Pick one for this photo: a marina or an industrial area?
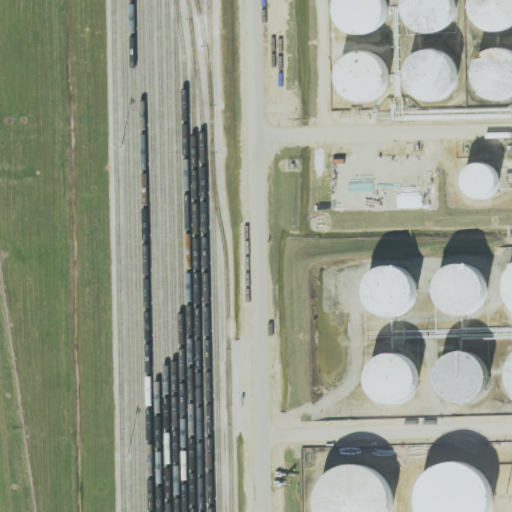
industrial area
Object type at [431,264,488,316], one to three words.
storage tank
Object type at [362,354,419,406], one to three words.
storage tank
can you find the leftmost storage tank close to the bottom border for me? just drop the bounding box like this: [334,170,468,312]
[311,464,392,512]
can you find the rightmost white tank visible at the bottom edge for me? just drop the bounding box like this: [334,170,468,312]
[413,462,492,512]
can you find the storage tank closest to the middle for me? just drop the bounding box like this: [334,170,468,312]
[360,264,418,318]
